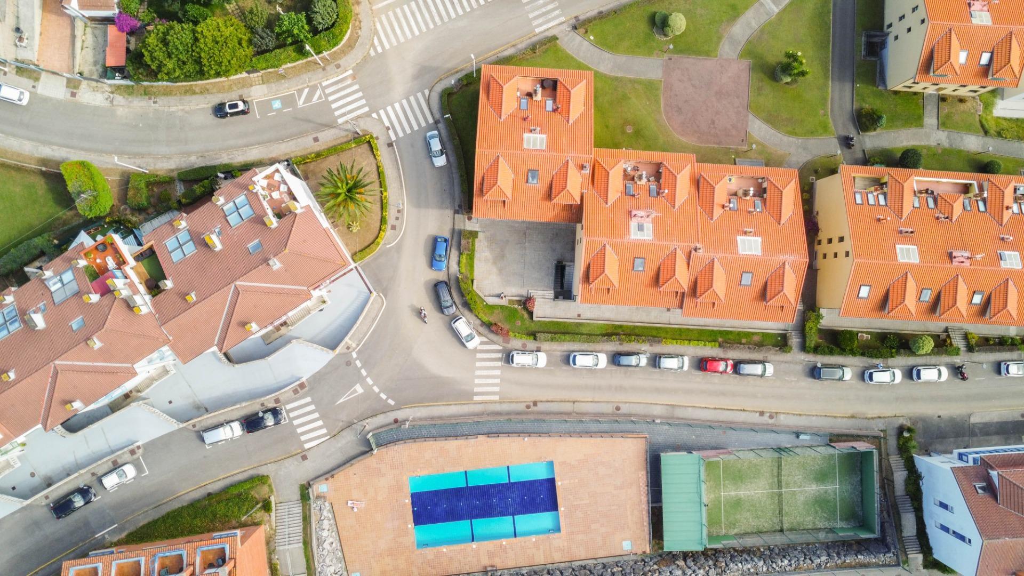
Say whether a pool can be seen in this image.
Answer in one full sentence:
Yes, a pool can be made out from above.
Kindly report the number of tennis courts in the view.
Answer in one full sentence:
The picture shows just 1 tennis court.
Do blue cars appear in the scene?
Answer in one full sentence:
Yes, I can see a blue car in this picture.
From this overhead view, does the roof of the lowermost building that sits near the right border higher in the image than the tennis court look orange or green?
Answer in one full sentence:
The color of the roof of the lowermost building that sits near the right border higher in the image than the tennis court is orange.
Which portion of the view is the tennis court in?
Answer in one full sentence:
Look in the bottom right portion of the view to spot the tennis court.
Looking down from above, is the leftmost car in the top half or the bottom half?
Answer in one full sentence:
It is in the top half that the leftmost car appears.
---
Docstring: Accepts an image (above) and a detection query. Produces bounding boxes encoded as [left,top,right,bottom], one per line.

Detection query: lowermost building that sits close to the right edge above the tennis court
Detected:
[811,164,1024,327]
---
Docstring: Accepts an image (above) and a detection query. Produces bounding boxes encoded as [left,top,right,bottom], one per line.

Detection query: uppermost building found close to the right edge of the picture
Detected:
[879,0,1024,98]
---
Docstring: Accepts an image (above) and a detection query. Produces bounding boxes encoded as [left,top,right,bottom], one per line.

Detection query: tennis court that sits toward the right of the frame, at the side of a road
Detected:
[700,439,887,546]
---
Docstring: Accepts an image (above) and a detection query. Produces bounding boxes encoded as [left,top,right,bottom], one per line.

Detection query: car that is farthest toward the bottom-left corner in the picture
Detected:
[51,486,97,518]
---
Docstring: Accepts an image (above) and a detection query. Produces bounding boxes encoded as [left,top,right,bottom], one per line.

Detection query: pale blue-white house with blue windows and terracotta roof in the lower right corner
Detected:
[914,441,1024,576]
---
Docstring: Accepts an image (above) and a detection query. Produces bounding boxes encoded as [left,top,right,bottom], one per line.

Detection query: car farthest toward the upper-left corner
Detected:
[0,83,33,106]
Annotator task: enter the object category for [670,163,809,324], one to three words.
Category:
building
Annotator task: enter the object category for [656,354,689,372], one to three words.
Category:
car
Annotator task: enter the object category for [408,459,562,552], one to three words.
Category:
swimming pool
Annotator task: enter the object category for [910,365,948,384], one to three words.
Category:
car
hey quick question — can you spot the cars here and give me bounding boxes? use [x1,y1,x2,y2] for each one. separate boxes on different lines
[97,462,140,491]
[201,420,245,445]
[656,354,689,372]
[243,408,287,433]
[699,356,733,375]
[998,360,1024,376]
[813,364,852,383]
[614,351,648,369]
[736,360,773,378]
[215,99,251,119]
[569,351,607,370]
[910,365,948,384]
[451,315,480,350]
[863,367,902,386]
[0,83,33,106]
[431,236,450,271]
[51,486,97,518]
[434,280,456,316]
[426,130,447,167]
[509,350,546,369]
